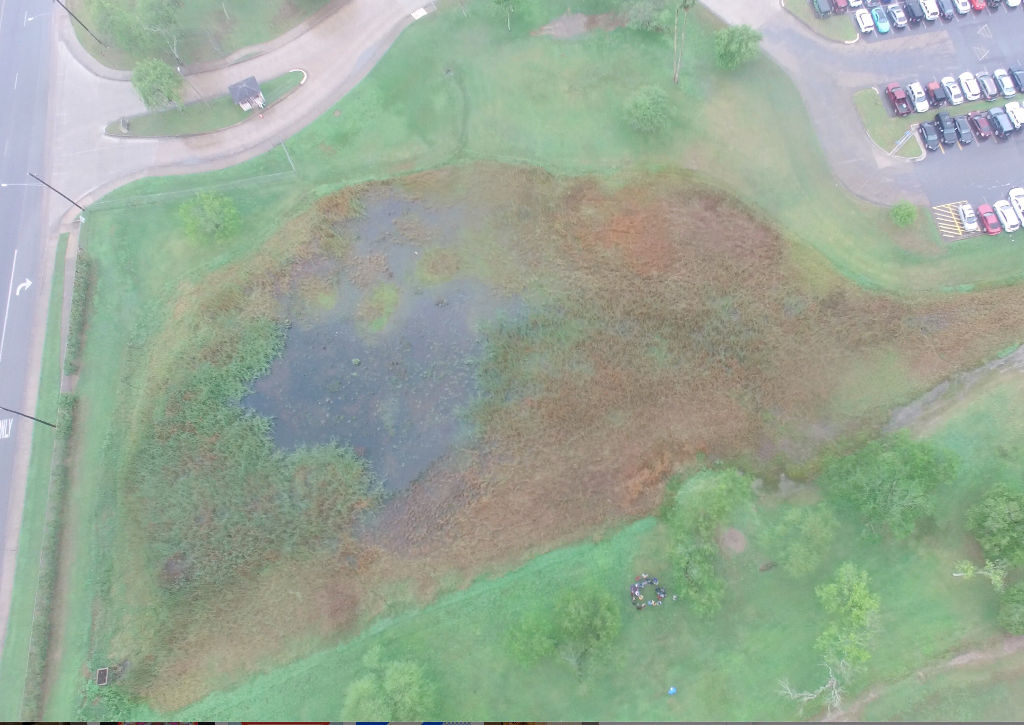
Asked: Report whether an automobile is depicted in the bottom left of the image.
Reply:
No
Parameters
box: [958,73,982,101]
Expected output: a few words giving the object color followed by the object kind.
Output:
white car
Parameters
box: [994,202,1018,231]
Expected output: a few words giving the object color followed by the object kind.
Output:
white car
